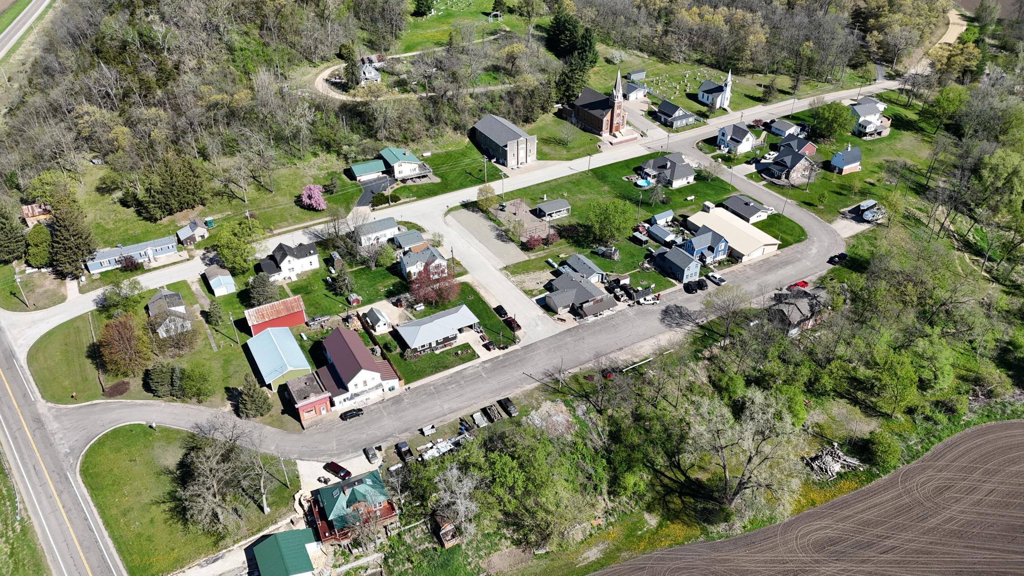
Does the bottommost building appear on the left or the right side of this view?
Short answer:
left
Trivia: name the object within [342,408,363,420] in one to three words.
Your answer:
vehicle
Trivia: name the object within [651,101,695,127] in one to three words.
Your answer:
house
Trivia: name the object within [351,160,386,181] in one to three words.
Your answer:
building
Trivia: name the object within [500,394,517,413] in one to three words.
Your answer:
vehicle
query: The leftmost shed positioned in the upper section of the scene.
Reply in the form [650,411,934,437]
[25,200,55,223]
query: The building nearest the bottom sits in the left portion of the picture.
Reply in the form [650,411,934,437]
[253,528,338,576]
